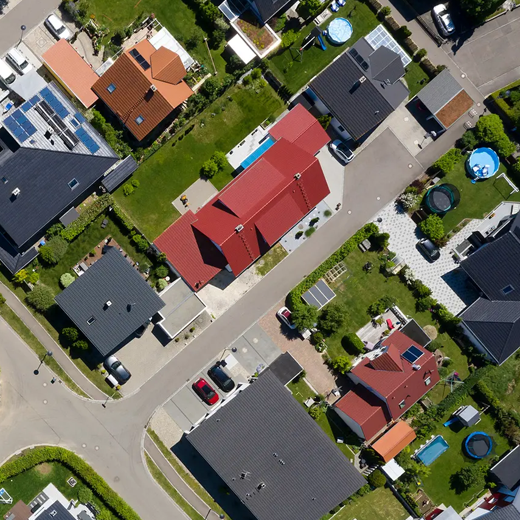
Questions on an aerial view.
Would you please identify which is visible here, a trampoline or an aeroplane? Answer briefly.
trampoline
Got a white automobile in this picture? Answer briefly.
Yes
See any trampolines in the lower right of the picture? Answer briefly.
Yes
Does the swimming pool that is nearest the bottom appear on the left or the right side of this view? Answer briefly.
right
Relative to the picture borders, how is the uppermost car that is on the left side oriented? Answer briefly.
on a diagonal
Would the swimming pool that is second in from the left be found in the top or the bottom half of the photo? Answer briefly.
top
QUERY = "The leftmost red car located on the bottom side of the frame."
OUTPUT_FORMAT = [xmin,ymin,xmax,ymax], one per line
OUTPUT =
[190,376,221,406]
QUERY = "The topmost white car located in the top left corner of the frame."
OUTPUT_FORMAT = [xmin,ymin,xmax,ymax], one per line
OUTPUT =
[43,11,74,43]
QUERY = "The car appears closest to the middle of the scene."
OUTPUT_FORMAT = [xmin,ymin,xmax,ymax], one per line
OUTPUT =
[274,304,298,332]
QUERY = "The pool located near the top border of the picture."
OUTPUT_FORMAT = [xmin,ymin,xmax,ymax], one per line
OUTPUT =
[324,18,352,47]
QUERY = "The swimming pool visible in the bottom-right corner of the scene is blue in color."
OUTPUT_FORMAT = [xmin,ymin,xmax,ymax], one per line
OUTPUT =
[411,430,449,465]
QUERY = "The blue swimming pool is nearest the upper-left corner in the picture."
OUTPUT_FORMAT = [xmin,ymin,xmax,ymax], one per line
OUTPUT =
[241,139,274,170]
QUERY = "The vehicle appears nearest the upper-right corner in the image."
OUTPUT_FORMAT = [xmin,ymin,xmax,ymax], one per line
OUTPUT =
[430,3,456,38]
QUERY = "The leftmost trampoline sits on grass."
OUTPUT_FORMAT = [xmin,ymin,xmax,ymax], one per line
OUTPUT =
[428,182,463,214]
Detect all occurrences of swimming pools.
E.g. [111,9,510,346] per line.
[411,430,449,465]
[463,147,499,182]
[241,139,274,170]
[324,18,352,47]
